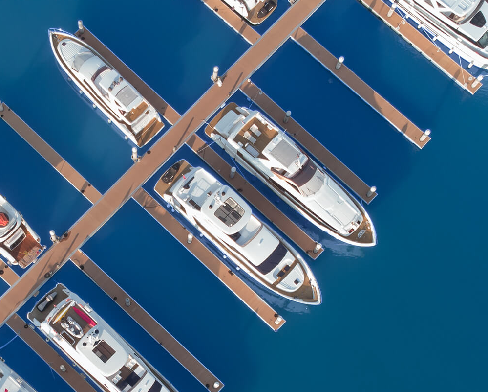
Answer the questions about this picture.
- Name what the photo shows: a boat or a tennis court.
boat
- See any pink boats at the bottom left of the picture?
Yes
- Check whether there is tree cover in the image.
No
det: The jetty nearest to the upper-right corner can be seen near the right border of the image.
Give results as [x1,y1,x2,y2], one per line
[362,0,483,94]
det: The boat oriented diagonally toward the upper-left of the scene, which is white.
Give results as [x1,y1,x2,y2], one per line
[47,28,164,149]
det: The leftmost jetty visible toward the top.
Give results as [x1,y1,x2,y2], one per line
[0,102,102,204]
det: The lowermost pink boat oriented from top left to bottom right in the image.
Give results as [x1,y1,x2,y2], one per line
[73,308,95,327]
